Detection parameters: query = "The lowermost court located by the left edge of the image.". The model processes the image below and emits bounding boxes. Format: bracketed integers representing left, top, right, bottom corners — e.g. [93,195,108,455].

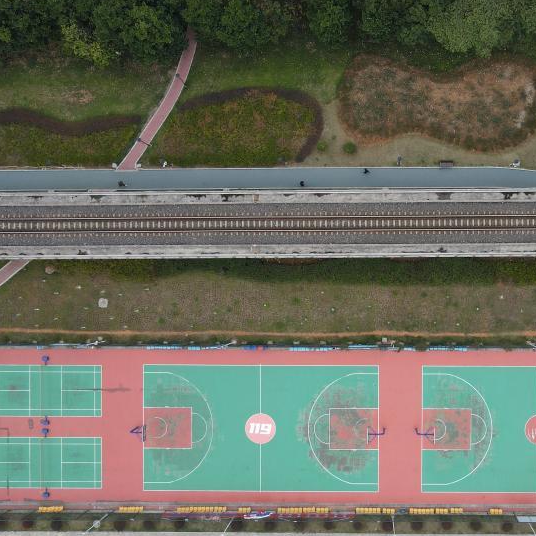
[0,437,102,488]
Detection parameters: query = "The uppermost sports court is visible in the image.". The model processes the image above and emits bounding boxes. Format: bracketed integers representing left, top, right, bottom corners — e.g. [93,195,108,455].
[0,365,102,417]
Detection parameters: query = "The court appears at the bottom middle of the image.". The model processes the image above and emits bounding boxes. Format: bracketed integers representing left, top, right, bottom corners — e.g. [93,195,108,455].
[143,364,379,492]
